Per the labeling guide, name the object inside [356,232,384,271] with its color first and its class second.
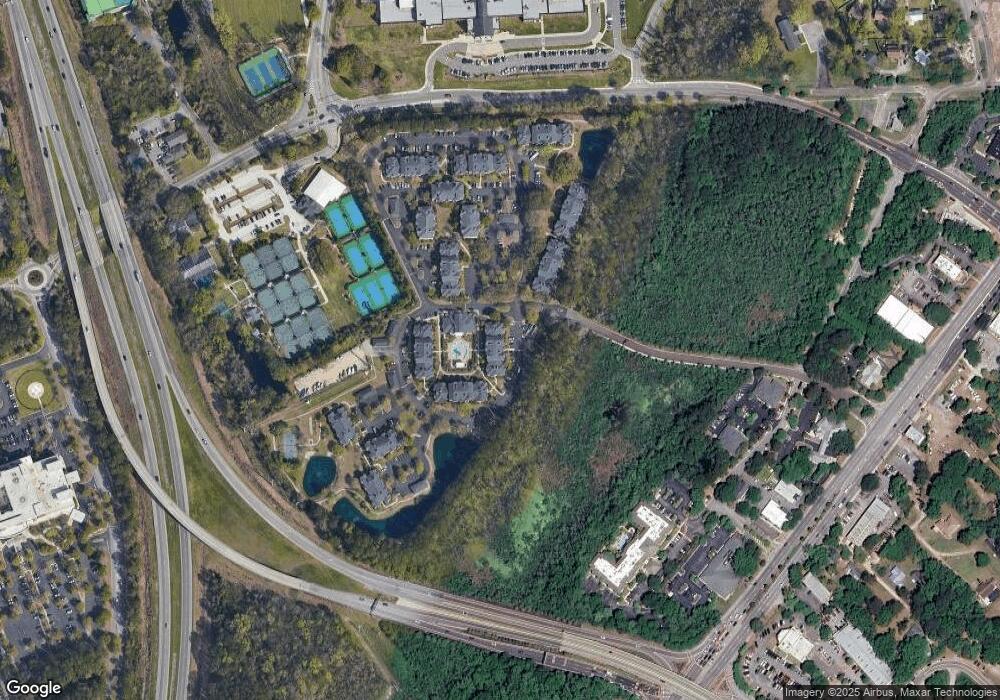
blue tennis court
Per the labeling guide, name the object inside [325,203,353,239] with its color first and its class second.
blue tennis court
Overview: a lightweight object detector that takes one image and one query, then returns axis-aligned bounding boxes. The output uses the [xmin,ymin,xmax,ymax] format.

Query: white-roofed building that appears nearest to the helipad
[0,456,79,530]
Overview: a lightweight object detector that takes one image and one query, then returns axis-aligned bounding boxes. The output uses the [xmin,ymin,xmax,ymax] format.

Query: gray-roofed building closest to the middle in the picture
[483,323,506,376]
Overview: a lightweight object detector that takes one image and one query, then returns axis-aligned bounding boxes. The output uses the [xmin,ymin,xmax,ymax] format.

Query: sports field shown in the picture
[221,0,305,42]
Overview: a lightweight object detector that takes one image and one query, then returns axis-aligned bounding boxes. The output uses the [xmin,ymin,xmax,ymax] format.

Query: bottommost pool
[611,528,634,555]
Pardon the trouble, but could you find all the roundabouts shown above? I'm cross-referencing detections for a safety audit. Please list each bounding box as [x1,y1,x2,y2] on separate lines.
[18,258,53,293]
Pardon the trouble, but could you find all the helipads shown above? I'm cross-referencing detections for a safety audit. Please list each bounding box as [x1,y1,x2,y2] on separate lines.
[17,371,56,409]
